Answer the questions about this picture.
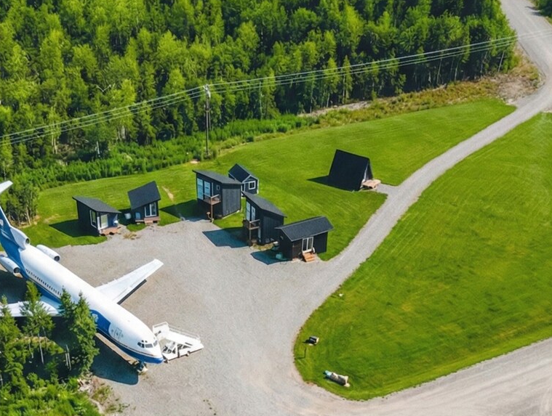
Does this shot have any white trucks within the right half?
No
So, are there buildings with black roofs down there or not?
Yes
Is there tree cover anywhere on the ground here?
Yes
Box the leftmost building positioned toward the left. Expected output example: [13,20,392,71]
[70,201,124,236]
